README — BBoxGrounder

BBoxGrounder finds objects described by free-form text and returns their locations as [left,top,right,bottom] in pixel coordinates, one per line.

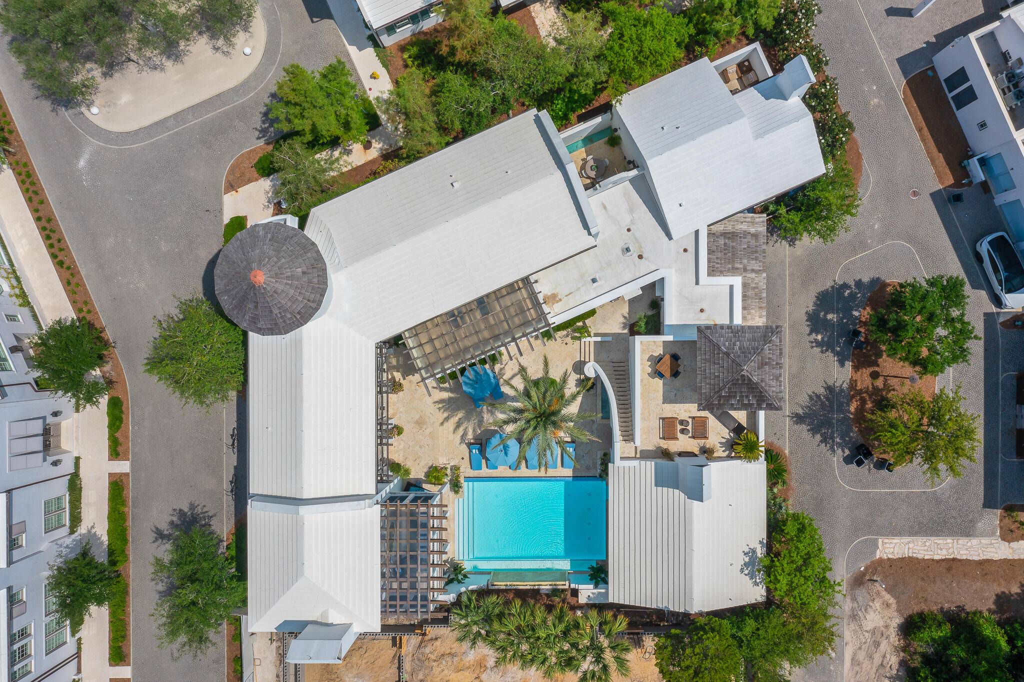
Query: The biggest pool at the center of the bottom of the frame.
[452,478,606,565]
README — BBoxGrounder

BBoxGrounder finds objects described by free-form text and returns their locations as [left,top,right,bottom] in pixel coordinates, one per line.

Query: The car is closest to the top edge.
[979,231,1024,314]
